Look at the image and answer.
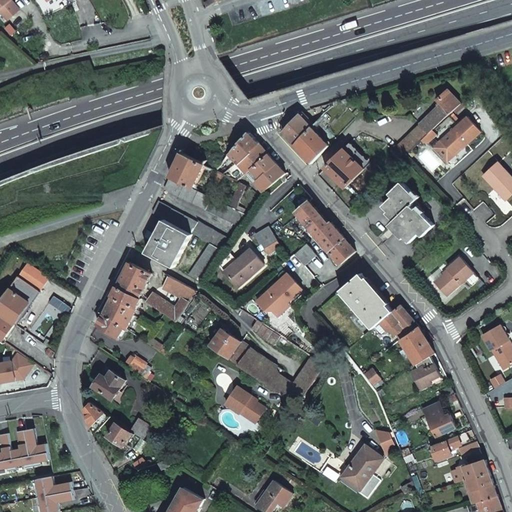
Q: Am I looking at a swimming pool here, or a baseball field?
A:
swimming pool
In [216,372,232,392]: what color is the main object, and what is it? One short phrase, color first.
white swimming pool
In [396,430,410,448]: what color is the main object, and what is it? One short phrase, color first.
blue swimming pool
